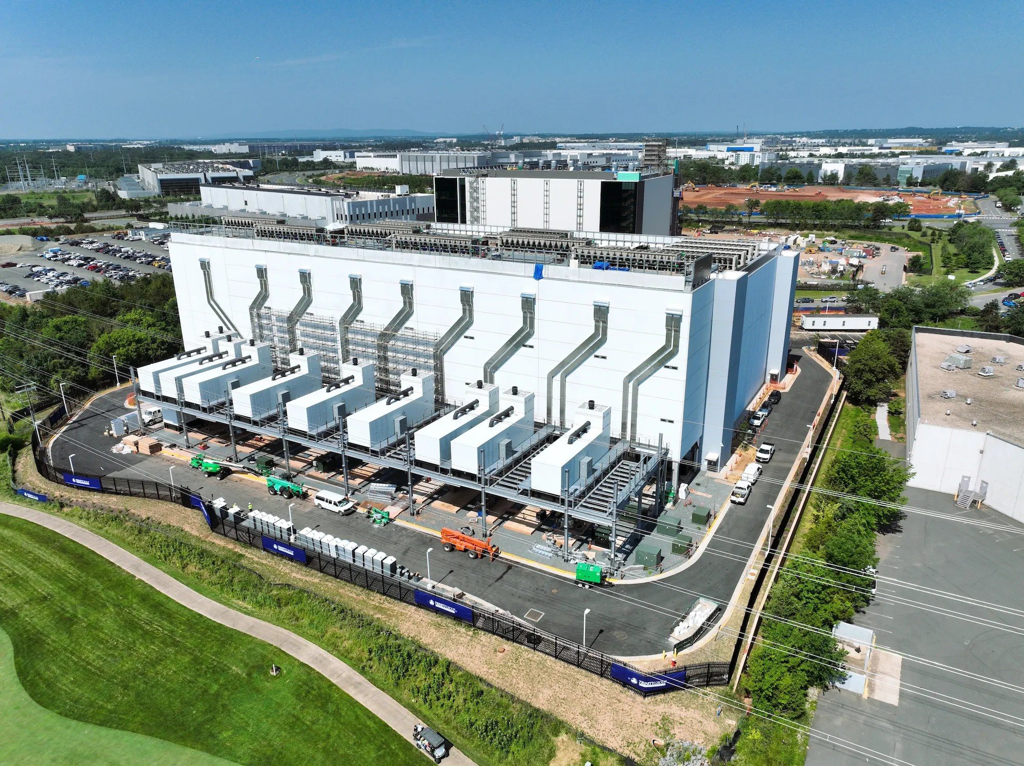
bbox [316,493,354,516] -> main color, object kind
white vehicle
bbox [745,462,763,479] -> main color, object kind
white car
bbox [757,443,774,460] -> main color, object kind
white vehicle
